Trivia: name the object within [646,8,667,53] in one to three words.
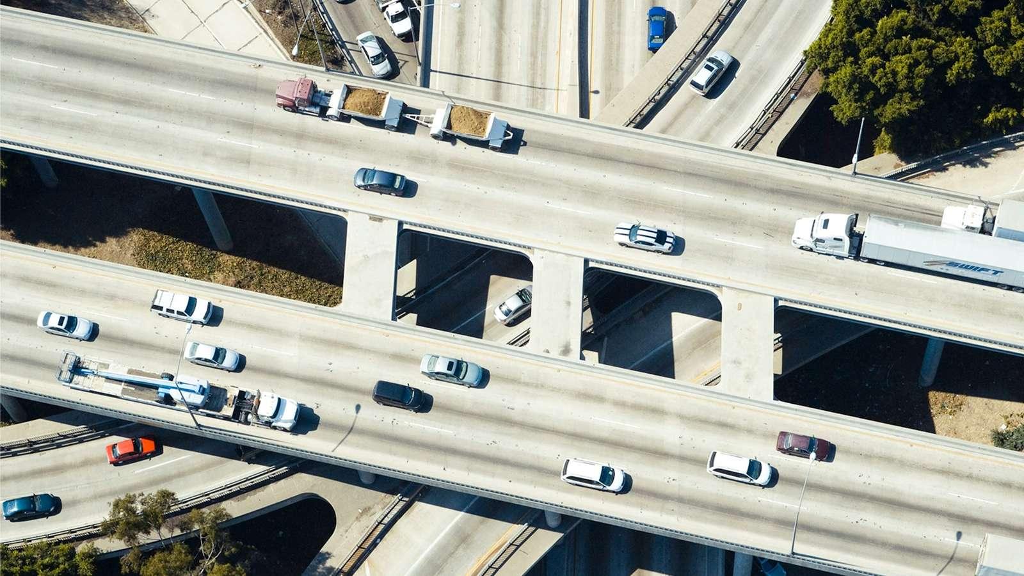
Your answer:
car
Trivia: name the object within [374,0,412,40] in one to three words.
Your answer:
truck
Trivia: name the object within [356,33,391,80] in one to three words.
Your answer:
car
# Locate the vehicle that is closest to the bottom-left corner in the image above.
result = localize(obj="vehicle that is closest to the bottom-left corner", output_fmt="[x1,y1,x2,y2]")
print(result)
[2,494,58,523]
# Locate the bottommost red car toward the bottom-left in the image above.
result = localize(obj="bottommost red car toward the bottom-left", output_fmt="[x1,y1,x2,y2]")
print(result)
[105,437,159,467]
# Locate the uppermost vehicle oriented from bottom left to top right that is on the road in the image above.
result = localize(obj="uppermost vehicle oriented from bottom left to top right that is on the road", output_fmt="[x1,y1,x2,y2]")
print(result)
[689,53,734,98]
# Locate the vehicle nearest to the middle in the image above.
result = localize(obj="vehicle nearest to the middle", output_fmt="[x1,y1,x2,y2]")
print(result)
[491,284,533,329]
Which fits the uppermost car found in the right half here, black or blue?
blue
